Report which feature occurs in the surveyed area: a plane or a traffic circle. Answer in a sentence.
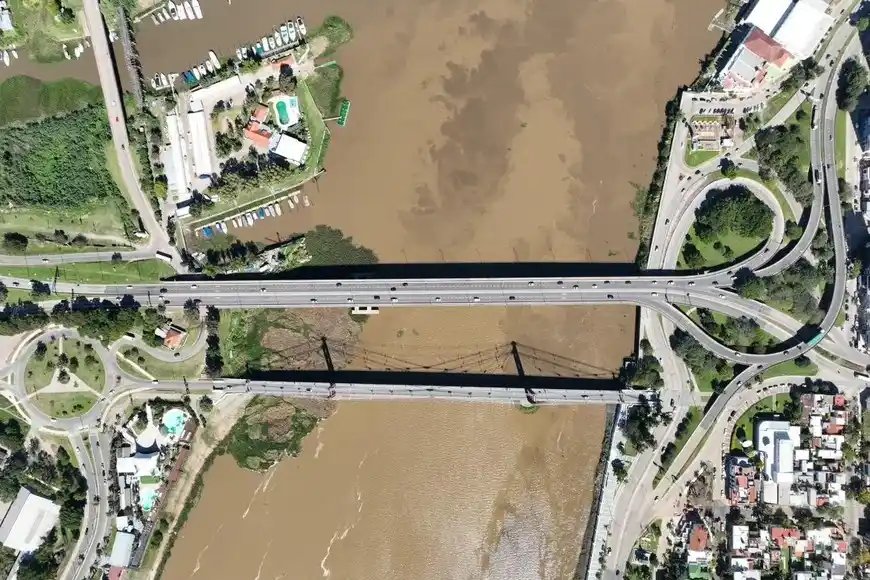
The one in the frame is a traffic circle.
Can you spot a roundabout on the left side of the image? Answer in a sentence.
Yes, a roundabout is visible on the left side of the image.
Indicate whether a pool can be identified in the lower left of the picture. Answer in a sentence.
Yes, a pool can be seen in the lower left of the picture.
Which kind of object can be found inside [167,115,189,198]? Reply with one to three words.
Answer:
shed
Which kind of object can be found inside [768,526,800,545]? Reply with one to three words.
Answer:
house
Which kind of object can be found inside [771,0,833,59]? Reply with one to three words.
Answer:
building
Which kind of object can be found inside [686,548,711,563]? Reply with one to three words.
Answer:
house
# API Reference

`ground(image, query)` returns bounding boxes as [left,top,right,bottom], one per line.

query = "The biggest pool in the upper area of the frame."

[274,96,299,128]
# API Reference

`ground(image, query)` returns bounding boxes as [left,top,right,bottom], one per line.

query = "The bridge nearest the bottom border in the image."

[240,374,650,406]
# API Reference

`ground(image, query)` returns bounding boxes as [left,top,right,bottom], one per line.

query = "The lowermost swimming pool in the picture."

[139,484,162,511]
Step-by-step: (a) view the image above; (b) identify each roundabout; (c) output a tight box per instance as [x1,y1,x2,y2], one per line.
[14,326,116,428]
